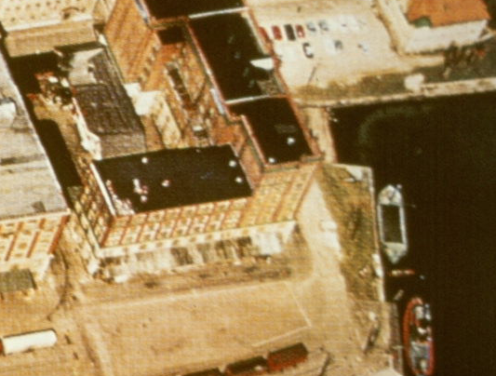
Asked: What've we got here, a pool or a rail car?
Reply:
rail car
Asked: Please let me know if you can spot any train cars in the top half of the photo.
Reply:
No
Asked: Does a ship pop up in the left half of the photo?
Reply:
No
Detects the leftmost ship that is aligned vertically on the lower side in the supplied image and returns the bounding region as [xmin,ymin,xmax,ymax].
[375,184,407,269]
